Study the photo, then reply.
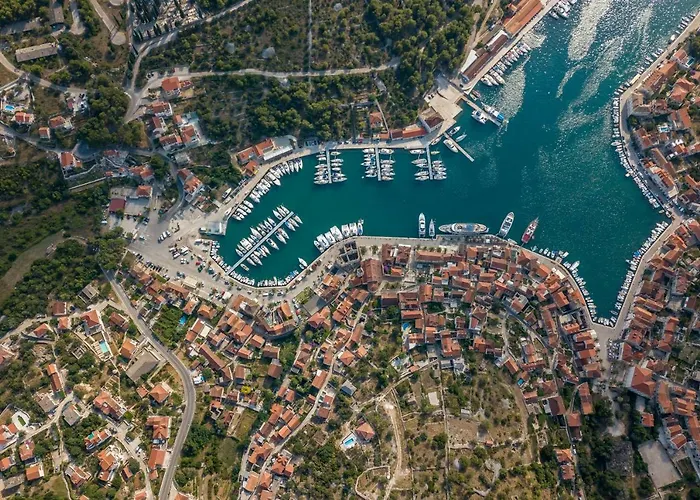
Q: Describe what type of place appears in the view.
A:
residential area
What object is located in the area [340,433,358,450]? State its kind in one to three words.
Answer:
swimming pool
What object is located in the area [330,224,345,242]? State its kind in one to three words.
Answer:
boat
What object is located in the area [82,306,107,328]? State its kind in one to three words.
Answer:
house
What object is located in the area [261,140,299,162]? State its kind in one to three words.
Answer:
building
